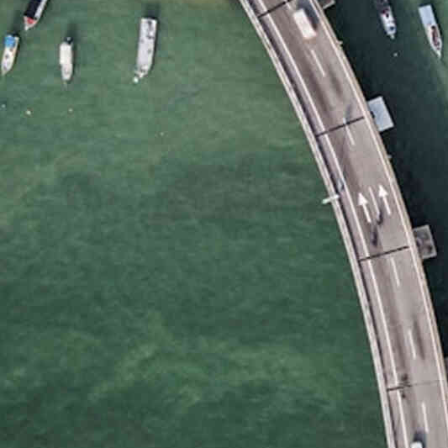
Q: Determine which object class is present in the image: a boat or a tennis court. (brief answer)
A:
boat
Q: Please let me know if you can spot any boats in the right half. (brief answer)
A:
Yes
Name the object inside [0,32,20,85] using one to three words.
boat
